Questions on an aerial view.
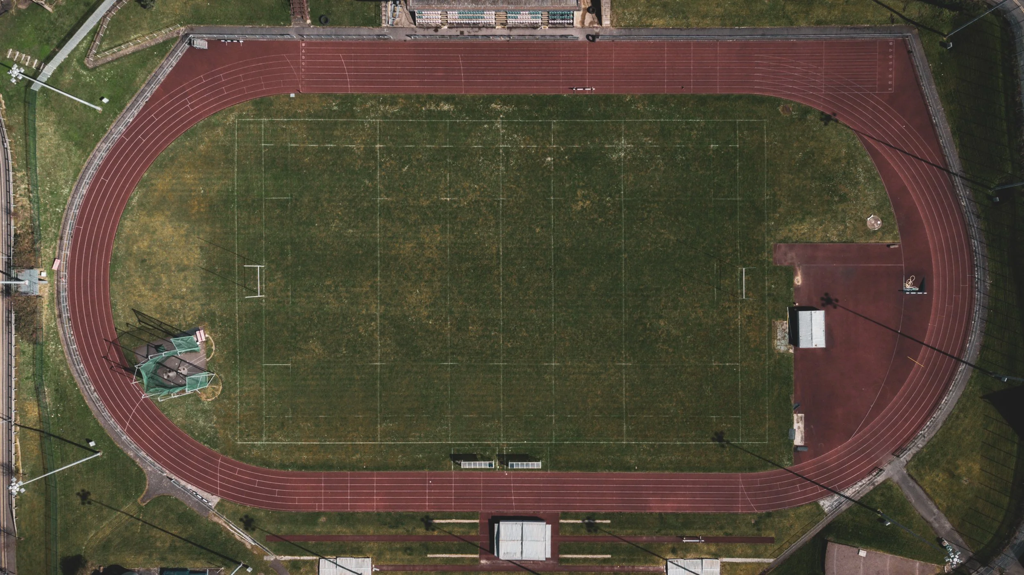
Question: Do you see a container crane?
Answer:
No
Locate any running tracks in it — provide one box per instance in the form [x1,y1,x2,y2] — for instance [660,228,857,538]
[67,37,976,512]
